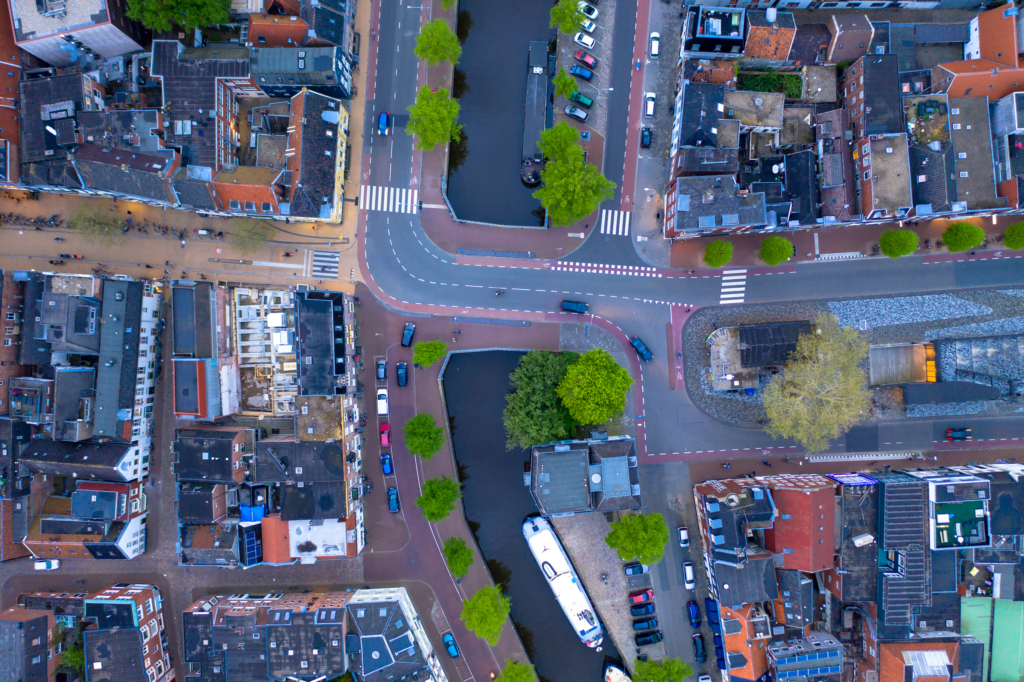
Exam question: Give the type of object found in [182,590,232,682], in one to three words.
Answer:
house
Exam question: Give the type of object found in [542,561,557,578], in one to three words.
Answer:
boat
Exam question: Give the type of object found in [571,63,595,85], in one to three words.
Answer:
car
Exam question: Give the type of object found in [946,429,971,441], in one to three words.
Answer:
vehicle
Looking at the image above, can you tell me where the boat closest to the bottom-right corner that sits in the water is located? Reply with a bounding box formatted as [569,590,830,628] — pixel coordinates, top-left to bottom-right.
[602,661,633,682]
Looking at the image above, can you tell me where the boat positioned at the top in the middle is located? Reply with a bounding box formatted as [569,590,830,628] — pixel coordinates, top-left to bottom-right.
[521,41,549,186]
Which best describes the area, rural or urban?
urban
